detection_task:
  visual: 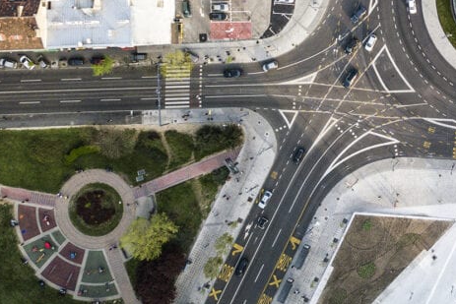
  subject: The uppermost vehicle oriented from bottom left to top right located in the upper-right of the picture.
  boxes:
[350,4,370,22]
